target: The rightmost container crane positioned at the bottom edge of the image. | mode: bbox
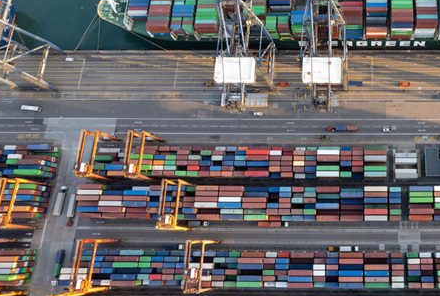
[178,236,222,292]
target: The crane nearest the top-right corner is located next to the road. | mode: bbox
[300,0,351,112]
